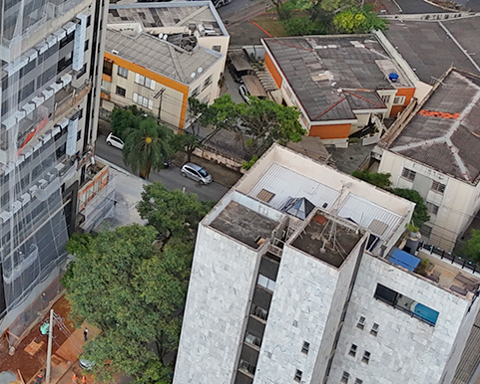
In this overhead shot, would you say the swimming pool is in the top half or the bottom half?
bottom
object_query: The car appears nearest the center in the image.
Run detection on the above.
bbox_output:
[180,163,214,187]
